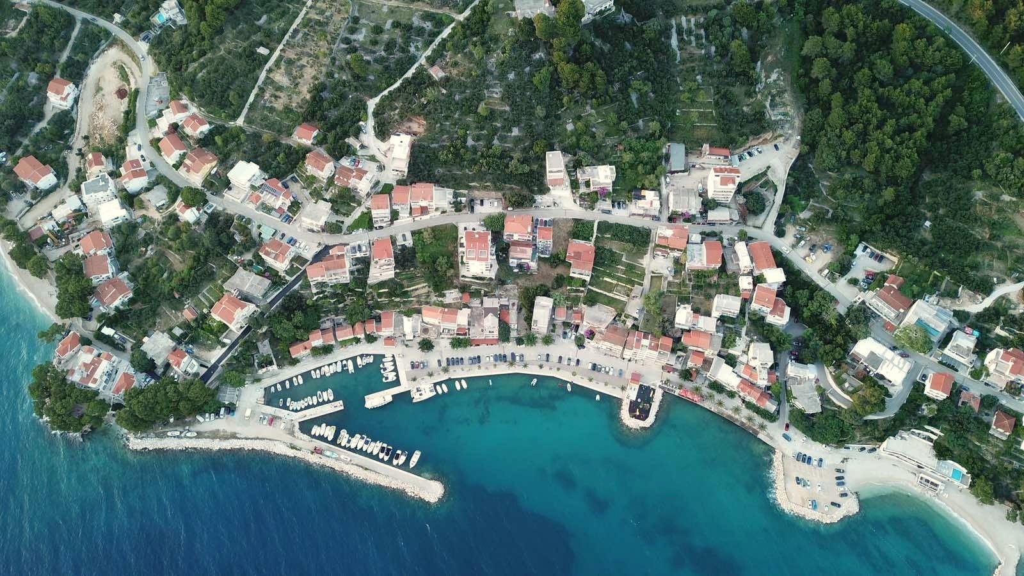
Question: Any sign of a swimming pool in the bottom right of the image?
Yes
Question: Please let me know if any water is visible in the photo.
Yes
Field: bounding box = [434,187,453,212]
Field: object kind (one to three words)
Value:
greenhouse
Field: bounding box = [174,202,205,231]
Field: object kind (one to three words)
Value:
house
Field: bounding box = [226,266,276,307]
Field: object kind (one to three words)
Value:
building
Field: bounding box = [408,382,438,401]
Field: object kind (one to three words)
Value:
boat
